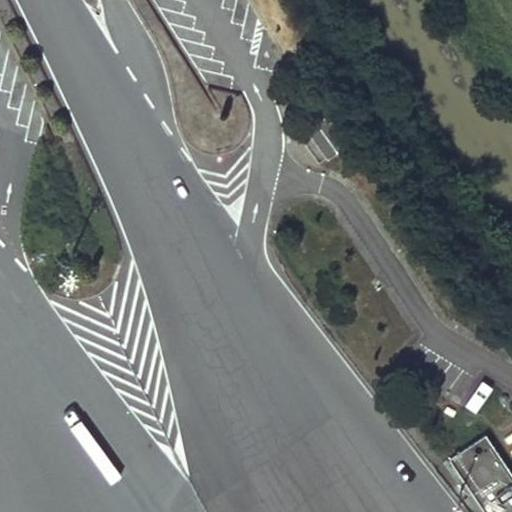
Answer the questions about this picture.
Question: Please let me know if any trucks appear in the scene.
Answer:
Yes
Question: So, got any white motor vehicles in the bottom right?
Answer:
Yes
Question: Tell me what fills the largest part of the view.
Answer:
paved ground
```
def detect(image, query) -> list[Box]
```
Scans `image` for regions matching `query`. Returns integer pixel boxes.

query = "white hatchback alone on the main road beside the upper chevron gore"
[173,178,189,200]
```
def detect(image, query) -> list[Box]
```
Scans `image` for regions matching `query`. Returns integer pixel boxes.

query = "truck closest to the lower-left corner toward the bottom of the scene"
[63,408,122,486]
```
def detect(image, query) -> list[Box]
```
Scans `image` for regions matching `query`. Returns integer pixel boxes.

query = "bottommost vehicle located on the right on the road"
[395,460,412,482]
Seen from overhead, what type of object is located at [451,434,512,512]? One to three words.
building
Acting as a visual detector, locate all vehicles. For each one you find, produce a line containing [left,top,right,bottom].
[63,408,122,486]
[173,178,189,200]
[395,460,412,482]
[466,380,494,412]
